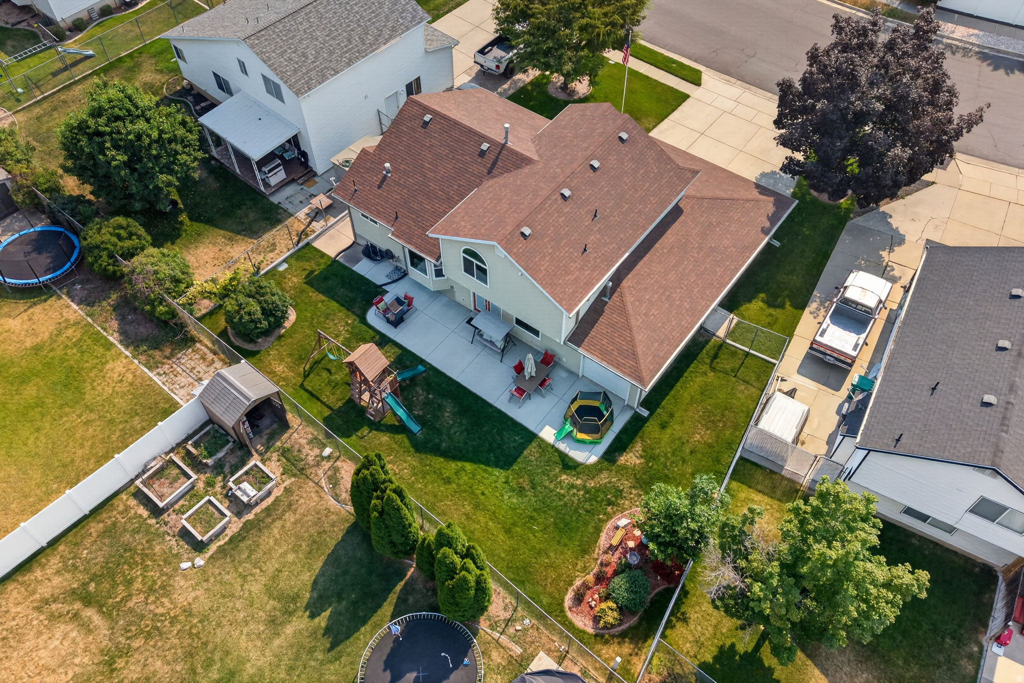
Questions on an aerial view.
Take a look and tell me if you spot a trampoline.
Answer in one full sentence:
Yes, the picture does show a trampoline.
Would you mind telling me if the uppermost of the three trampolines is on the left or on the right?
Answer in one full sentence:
The uppermost of the three trampolines appears in the left half of the scene.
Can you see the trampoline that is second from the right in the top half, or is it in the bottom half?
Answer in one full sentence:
It is in the bottom half that the trampoline that is second from the right appears.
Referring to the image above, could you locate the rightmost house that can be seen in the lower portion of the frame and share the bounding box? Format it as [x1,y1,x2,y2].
[827,248,1024,574]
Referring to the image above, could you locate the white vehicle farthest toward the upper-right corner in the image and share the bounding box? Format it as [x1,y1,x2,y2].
[807,269,892,372]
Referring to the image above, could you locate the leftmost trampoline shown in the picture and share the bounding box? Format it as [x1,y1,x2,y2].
[0,208,81,305]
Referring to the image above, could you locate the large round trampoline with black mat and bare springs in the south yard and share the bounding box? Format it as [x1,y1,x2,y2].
[356,609,485,683]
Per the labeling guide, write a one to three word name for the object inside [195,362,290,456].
shed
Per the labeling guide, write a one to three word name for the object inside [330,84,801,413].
house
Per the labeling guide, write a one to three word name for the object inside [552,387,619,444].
trampoline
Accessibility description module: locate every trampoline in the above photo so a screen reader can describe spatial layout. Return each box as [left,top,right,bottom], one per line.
[0,208,81,305]
[552,387,619,444]
[356,609,485,683]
